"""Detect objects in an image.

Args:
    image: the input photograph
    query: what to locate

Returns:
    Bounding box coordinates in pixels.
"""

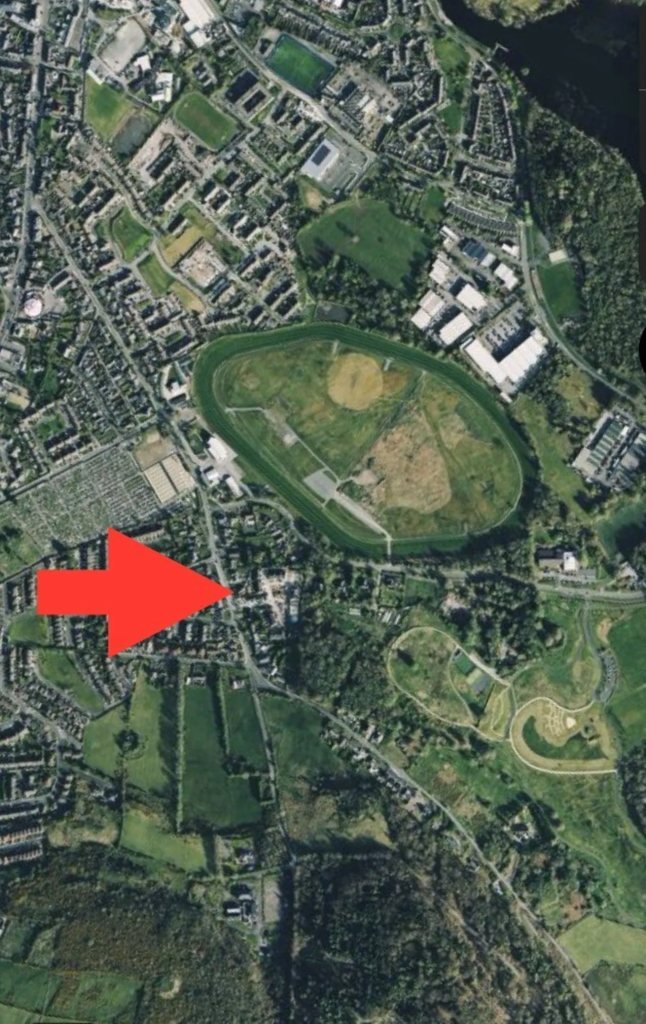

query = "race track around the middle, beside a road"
[194,322,528,559]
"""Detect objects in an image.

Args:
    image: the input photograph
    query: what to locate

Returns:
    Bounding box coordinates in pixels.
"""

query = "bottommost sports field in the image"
[539,261,581,319]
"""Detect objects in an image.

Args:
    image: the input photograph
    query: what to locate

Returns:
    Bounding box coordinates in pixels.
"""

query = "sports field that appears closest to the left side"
[85,74,129,141]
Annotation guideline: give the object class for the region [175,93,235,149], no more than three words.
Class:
sports field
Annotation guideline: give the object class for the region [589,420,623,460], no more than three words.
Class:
house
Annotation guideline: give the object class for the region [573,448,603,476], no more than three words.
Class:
house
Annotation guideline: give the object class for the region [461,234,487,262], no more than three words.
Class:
building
